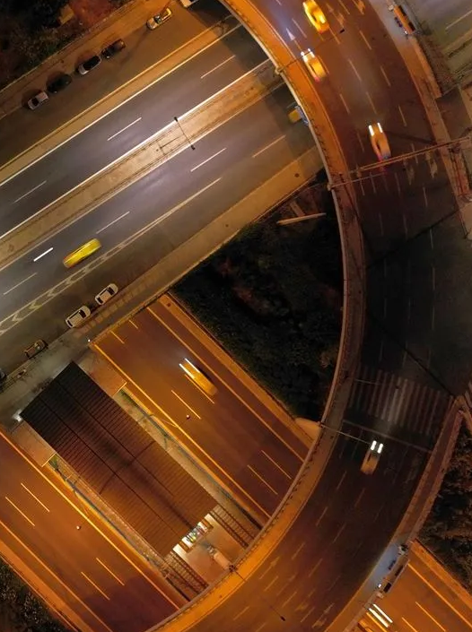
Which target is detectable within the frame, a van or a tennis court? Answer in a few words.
van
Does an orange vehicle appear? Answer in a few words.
Yes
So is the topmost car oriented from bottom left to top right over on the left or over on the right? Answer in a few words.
left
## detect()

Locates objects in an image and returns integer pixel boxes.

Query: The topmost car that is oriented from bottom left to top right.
[145,6,171,28]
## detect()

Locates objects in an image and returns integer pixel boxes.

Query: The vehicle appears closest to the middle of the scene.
[184,364,213,392]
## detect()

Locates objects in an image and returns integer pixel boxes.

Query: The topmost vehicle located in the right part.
[303,0,326,29]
